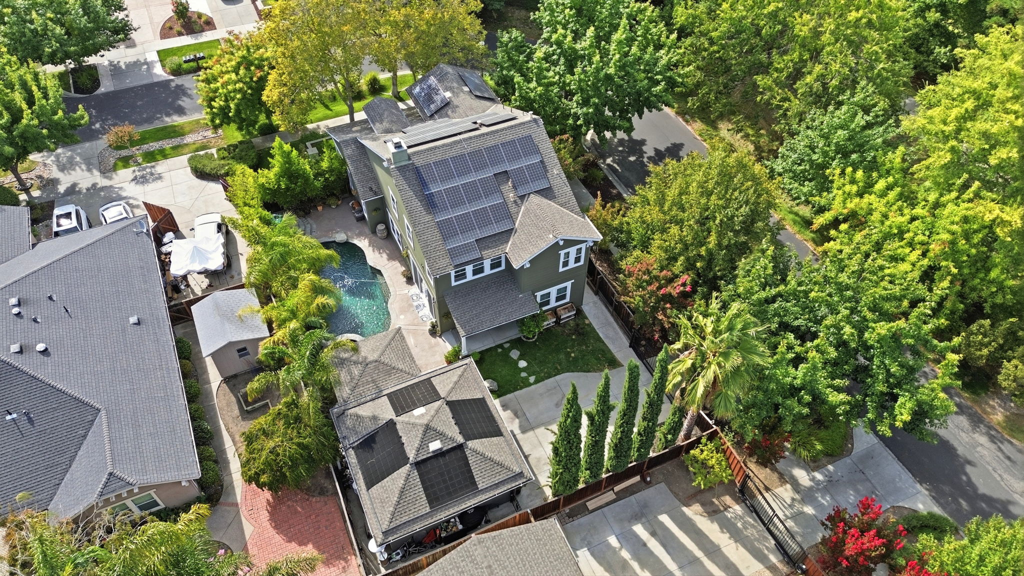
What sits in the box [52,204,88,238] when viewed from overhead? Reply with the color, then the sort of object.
white car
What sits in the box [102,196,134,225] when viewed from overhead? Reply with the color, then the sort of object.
white car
